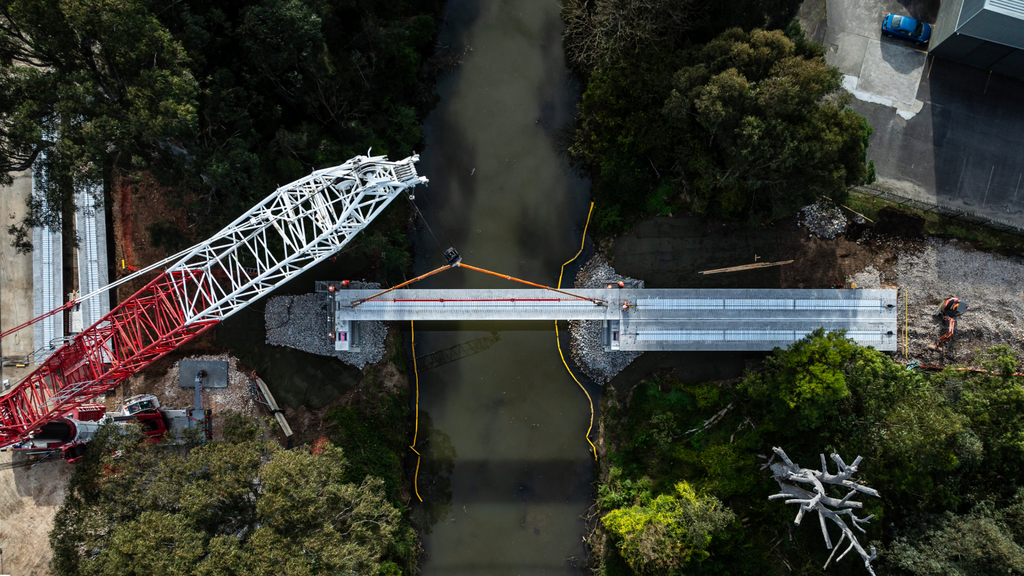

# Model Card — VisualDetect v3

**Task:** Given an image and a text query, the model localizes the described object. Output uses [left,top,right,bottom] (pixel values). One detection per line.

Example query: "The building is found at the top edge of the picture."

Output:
[928,0,1024,79]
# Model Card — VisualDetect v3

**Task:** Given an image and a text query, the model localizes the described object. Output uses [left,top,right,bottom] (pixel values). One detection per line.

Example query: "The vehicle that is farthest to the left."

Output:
[881,19,932,46]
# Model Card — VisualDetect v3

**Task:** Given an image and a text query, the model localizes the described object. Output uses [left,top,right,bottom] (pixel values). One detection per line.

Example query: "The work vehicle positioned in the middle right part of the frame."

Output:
[927,295,969,353]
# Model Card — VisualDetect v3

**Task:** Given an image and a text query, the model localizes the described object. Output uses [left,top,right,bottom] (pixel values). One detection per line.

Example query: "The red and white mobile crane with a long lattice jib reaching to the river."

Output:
[0,147,453,477]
